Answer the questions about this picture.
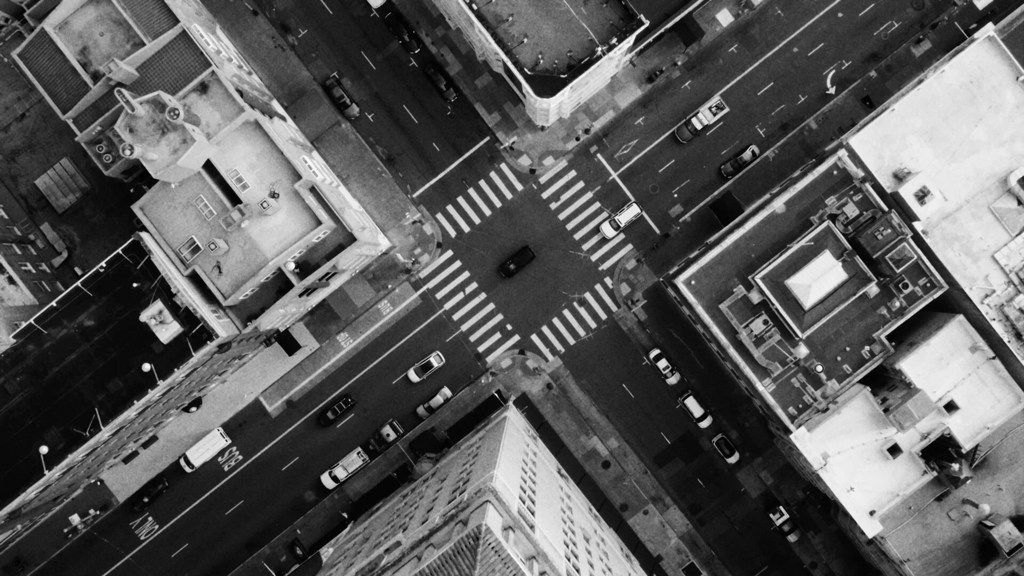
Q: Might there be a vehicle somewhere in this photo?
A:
Yes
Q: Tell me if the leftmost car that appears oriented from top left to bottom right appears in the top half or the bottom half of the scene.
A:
top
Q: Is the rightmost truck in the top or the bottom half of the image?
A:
bottom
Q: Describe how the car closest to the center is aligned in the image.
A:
at an angle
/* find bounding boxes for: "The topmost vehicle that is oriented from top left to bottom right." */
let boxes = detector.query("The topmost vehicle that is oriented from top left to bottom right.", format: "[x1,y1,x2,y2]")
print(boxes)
[384,10,424,56]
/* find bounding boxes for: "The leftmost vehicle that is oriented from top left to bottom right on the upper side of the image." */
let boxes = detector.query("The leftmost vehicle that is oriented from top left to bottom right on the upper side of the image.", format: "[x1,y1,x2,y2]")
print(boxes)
[323,75,360,119]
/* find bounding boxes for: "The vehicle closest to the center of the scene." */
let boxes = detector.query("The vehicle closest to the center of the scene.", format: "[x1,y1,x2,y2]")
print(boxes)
[499,243,538,278]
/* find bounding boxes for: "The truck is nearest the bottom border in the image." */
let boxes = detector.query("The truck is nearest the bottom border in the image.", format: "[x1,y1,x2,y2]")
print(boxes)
[766,504,799,542]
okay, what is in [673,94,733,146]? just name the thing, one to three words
truck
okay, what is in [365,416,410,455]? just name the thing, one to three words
truck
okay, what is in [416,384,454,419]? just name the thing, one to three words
car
